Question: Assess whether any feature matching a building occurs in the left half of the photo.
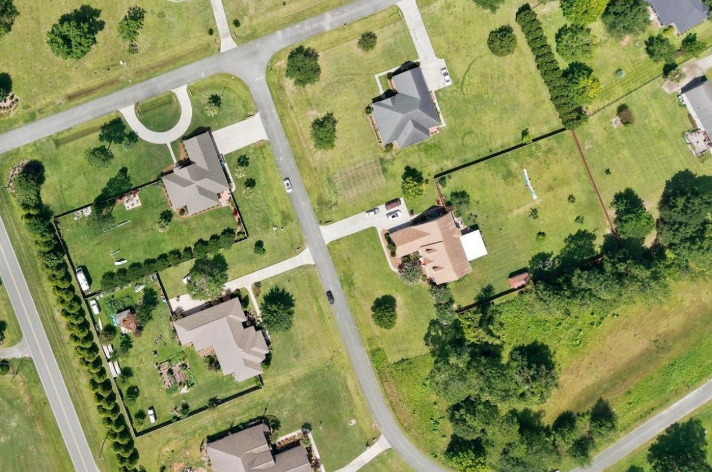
Yes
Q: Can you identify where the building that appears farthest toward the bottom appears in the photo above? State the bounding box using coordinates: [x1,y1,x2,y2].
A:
[207,422,311,472]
